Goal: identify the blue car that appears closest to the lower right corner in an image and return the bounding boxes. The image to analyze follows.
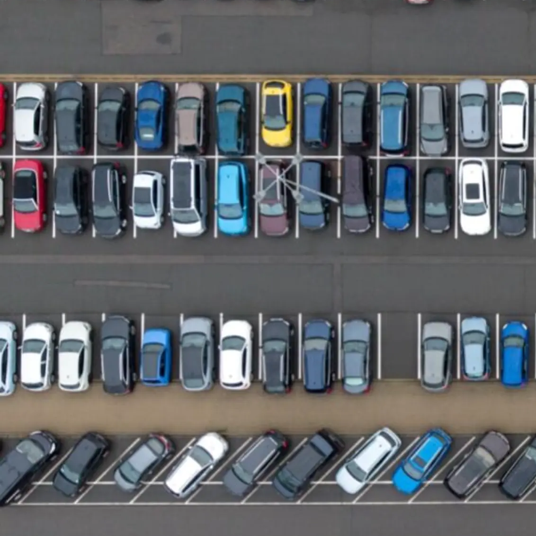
[394,425,453,495]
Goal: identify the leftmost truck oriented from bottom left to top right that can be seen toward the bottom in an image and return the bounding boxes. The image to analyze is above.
[0,427,65,515]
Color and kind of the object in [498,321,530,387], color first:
blue car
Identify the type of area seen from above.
parking lot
